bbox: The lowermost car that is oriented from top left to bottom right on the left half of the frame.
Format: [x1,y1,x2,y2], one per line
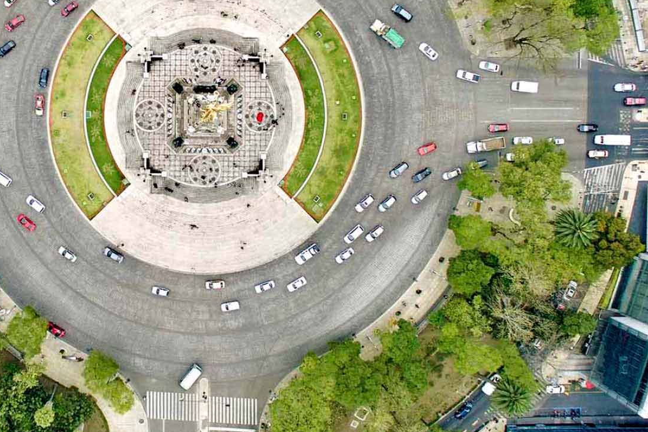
[46,321,67,337]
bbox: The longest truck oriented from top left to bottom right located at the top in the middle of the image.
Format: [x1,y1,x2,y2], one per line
[370,21,405,48]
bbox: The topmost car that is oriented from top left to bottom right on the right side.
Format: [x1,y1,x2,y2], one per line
[391,3,413,22]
